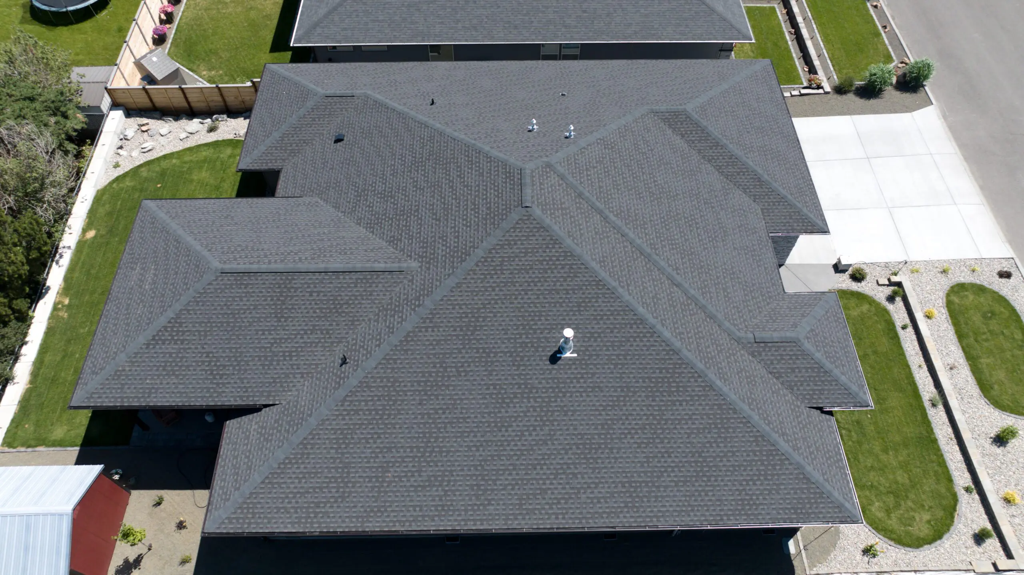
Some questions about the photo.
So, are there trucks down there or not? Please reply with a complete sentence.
No, I can see no truck in this picture.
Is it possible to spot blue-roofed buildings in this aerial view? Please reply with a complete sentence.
No, the scene contains no blue-roofed building.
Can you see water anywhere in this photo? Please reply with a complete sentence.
No, no water is visible.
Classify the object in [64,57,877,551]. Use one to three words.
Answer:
house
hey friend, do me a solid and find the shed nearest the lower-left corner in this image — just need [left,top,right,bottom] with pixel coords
[0,465,132,575]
